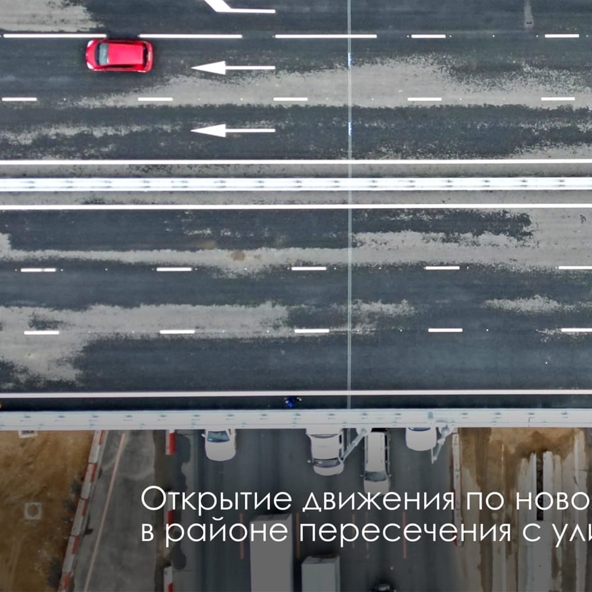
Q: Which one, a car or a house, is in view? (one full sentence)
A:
Visible in the photo is a car.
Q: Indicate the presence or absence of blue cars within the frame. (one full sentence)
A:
No, there's no blue car here.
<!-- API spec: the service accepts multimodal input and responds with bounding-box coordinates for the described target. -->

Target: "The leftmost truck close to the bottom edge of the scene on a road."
[251,508,298,592]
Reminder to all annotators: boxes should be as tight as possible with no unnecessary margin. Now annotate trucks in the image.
[303,549,344,592]
[304,430,341,478]
[251,508,298,592]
